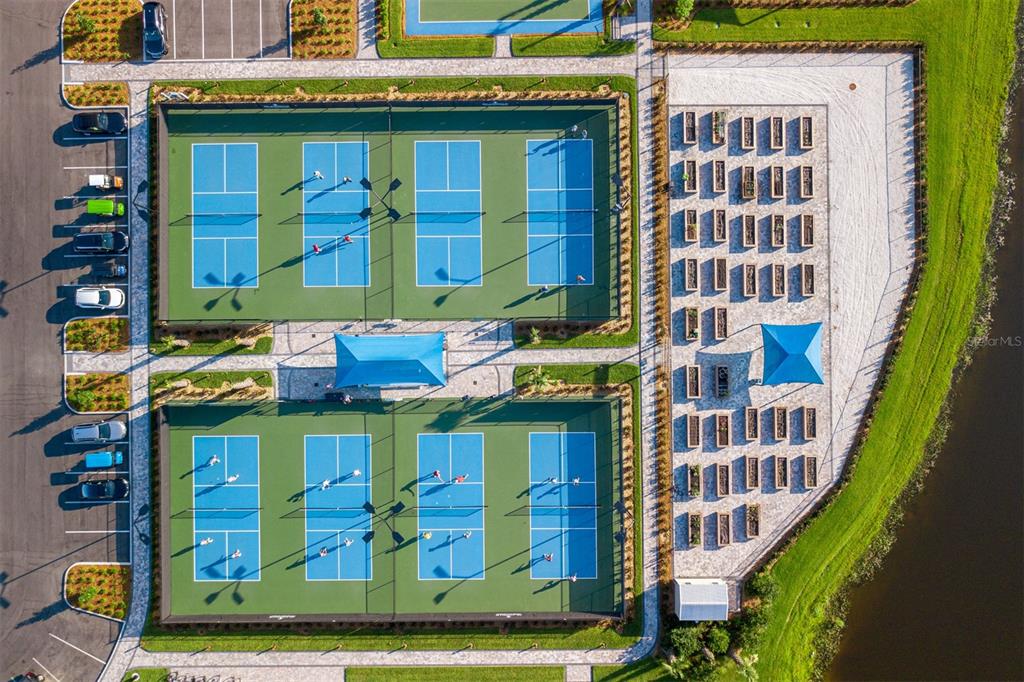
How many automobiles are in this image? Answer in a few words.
six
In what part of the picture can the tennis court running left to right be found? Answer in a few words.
top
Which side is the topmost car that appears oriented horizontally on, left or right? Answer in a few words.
left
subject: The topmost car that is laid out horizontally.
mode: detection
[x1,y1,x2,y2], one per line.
[74,110,128,136]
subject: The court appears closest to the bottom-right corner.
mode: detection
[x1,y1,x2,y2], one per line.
[529,432,597,578]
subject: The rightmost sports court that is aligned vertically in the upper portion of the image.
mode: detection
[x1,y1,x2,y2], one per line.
[527,139,594,285]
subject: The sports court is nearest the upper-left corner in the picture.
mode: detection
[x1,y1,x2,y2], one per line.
[192,143,259,288]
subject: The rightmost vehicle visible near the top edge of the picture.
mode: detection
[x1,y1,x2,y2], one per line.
[140,3,169,58]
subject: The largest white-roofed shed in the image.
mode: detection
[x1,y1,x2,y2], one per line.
[676,577,731,620]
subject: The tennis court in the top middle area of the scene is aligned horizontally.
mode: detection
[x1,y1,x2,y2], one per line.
[406,0,603,35]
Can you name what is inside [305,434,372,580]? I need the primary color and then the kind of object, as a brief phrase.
blue sports court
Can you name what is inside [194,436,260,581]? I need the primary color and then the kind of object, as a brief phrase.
blue sports court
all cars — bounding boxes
[140,3,169,58]
[73,419,129,444]
[73,229,131,255]
[73,286,126,310]
[81,477,131,502]
[74,110,128,136]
